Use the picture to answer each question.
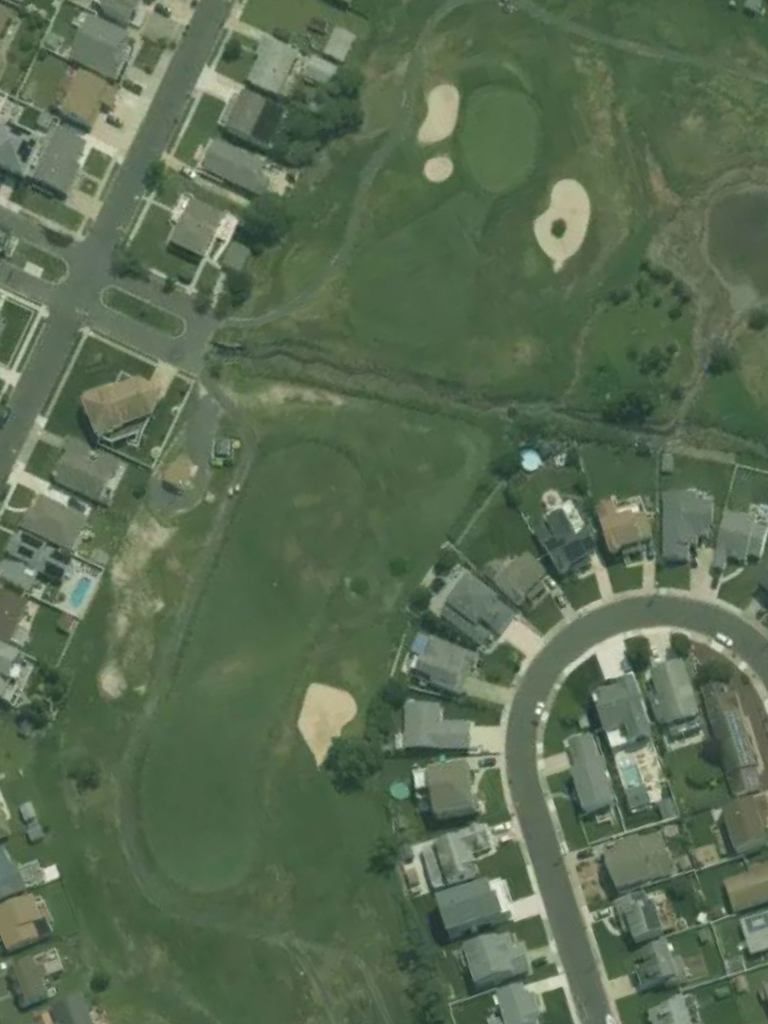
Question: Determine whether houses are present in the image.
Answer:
Yes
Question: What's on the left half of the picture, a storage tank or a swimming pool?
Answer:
swimming pool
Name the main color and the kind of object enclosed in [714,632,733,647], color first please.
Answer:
white vehicle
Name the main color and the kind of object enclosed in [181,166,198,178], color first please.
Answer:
white vehicle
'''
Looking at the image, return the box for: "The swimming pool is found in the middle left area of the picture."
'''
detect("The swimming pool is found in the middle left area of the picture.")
[69,574,95,609]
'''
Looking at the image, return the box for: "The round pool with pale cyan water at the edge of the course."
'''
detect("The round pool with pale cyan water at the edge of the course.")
[520,449,542,470]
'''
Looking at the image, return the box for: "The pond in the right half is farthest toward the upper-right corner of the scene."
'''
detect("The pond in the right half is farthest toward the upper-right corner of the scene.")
[705,183,768,302]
